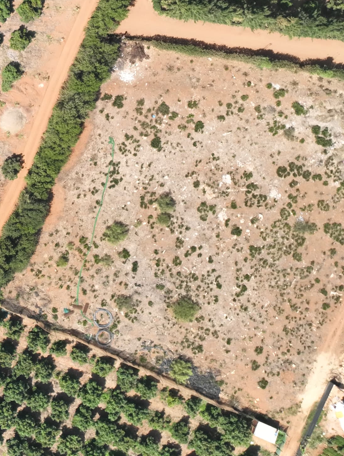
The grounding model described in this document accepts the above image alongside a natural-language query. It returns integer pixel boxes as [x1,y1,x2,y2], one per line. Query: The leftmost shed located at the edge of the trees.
[246,416,280,443]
